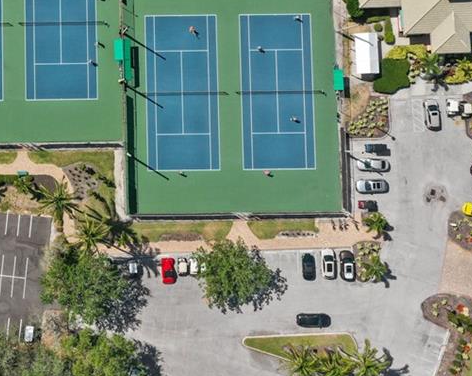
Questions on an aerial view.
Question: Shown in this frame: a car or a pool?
car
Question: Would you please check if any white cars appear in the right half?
Yes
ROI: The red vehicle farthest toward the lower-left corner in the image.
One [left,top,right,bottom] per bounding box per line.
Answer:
[161,256,176,285]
